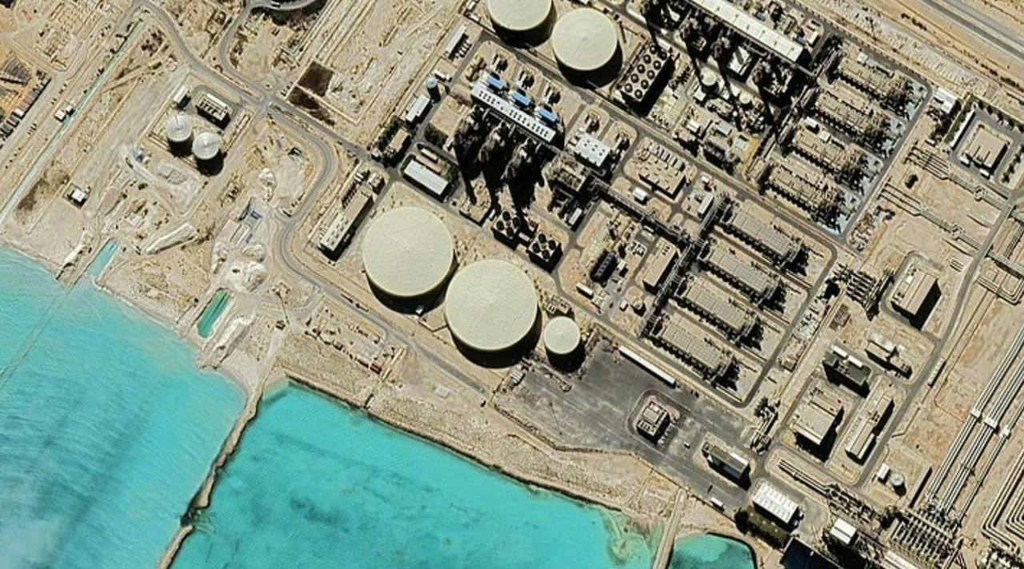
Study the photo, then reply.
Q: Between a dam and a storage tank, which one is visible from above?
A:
storage tank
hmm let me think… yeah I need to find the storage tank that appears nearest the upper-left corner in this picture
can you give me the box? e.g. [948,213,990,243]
[166,115,195,144]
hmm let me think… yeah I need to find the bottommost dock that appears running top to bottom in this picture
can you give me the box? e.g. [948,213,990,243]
[654,488,686,569]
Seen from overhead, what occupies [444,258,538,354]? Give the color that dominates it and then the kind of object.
white storage tank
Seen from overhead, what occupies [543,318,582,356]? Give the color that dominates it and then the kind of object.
white storage tank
